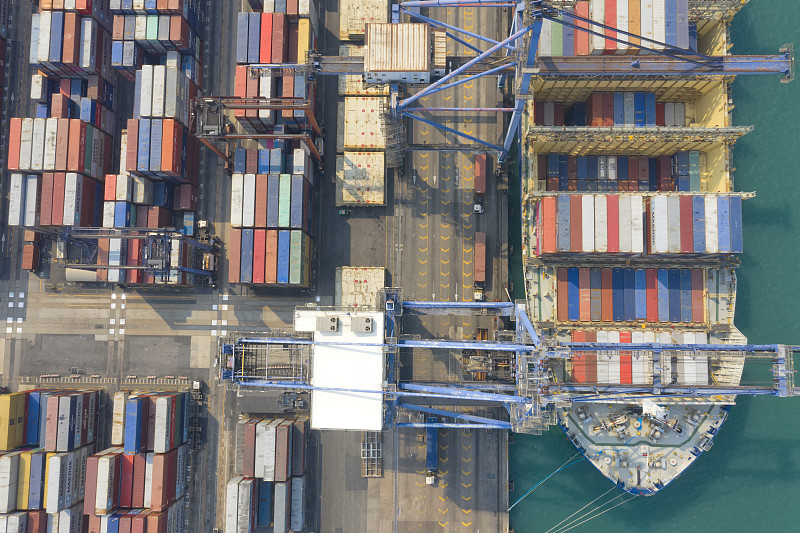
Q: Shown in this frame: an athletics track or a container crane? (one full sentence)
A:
The one in the frame is a container crane.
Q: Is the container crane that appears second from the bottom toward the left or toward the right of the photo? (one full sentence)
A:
The container crane that appears second from the bottom sits on the left side.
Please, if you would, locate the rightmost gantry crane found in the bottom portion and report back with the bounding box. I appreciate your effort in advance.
[223,284,800,440]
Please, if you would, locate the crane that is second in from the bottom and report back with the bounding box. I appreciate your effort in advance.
[60,224,220,281]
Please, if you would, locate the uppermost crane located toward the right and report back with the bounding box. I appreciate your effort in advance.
[223,0,794,181]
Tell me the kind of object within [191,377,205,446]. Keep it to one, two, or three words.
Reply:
vehicle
